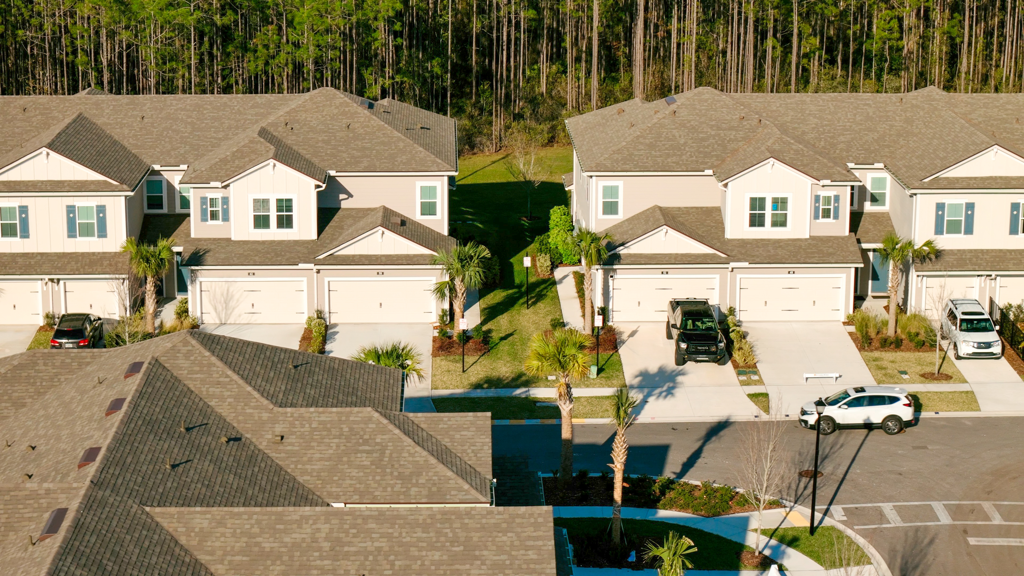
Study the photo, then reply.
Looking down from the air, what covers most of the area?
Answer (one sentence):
Most of the picture is covered by buildings.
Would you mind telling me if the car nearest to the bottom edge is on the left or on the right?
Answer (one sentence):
The car nearest to the bottom edge is on the right side of the image.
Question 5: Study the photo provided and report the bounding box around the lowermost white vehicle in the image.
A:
[798,383,920,435]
